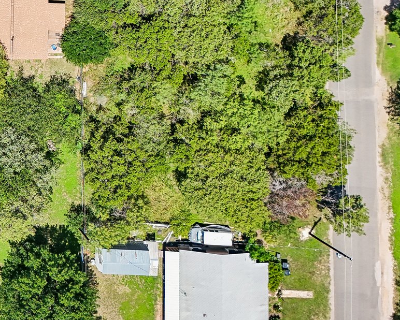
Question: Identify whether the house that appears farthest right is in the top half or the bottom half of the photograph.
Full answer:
Seen from above, the house that appears farthest right lies in the bottom half of the view.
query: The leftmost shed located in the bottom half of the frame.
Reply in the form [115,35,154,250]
[92,243,150,275]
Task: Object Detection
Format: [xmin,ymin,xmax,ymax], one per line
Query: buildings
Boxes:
[159,245,269,320]
[92,243,150,275]
[0,0,65,59]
